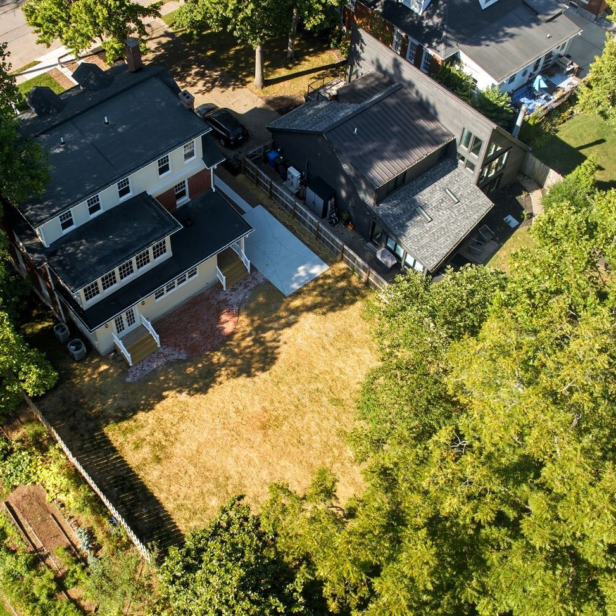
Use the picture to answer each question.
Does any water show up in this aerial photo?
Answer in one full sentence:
No, the scene doesn't show any water.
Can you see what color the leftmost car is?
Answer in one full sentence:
In this view, the leftmost car is black.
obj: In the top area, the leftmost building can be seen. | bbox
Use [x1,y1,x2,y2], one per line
[0,40,266,367]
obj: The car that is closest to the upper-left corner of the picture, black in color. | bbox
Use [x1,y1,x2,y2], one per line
[197,99,249,145]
